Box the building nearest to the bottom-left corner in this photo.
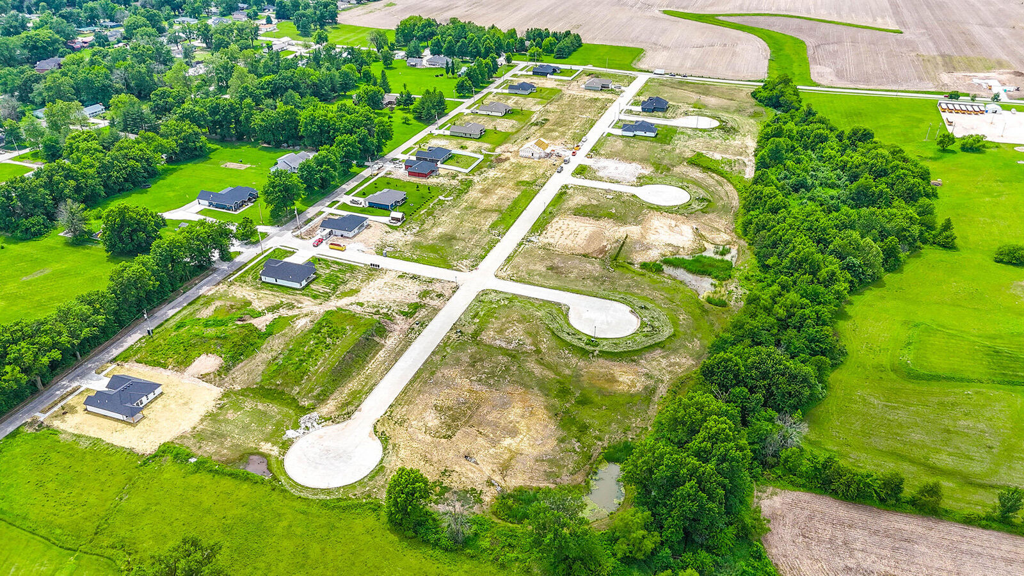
[83,373,163,423]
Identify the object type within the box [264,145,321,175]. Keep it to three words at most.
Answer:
house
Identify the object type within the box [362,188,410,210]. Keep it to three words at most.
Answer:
house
